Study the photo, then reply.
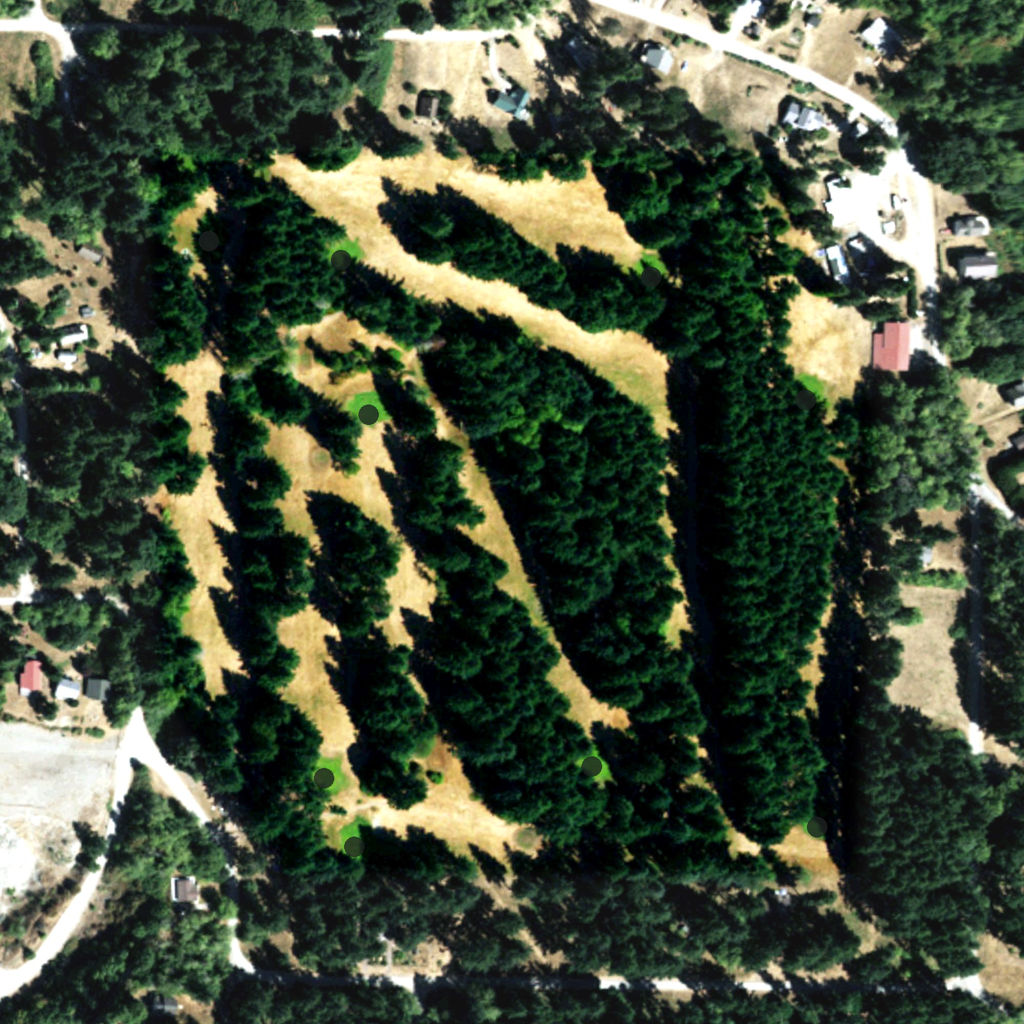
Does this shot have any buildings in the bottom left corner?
Yes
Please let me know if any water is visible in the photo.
No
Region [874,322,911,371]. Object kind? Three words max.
building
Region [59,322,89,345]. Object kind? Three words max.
house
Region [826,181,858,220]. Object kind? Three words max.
building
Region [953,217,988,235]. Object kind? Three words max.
house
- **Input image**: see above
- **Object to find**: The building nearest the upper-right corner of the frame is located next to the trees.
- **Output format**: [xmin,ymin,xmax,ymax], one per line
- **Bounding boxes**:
[861,13,903,55]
